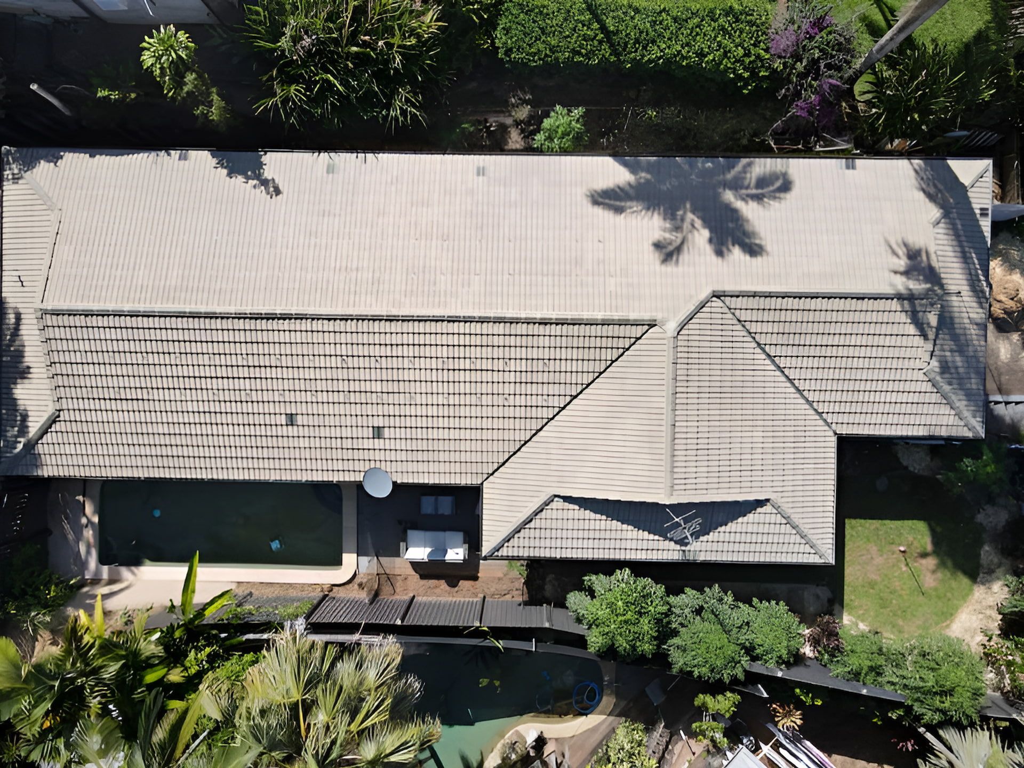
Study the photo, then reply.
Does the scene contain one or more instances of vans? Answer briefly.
No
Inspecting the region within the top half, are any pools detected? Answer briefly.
No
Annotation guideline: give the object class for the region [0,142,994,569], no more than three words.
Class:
house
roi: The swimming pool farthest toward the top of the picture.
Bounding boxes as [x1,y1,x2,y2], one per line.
[84,482,357,584]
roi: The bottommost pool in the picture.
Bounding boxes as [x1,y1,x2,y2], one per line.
[217,627,619,768]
